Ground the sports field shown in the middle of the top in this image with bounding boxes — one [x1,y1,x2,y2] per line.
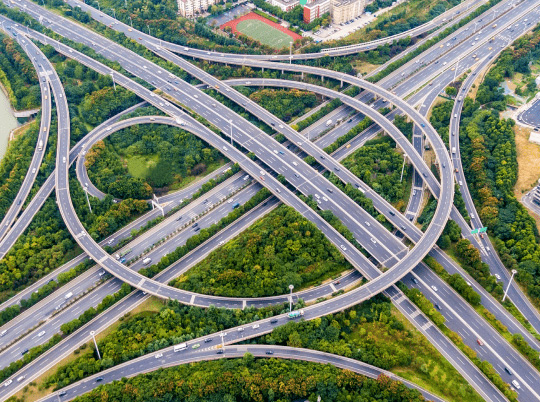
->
[230,11,304,50]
